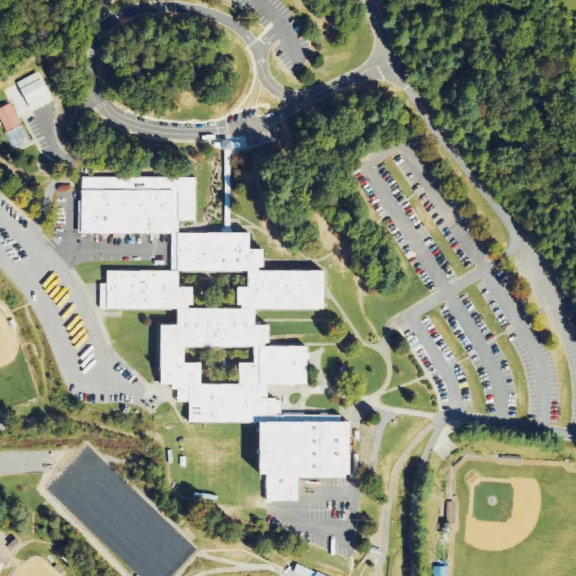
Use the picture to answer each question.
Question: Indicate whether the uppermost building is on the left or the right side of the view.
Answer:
left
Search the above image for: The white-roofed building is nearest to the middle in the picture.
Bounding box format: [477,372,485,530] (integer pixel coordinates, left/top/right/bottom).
[237,270,324,309]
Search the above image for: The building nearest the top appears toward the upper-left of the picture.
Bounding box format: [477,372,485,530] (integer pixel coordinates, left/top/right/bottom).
[16,71,52,108]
